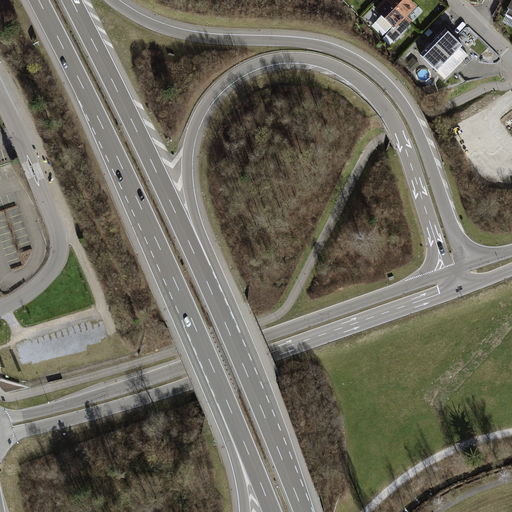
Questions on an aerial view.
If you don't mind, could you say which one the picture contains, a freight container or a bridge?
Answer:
bridge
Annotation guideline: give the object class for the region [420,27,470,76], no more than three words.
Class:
house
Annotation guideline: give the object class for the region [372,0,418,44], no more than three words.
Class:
house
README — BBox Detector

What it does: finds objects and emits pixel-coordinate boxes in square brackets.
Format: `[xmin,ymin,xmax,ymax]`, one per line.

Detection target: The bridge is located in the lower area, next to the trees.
[170,312,278,396]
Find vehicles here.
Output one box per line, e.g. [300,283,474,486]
[452,126,464,142]
[438,243,444,254]
[454,22,466,33]
[138,190,145,201]
[184,318,191,329]
[60,58,69,70]
[115,171,123,182]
